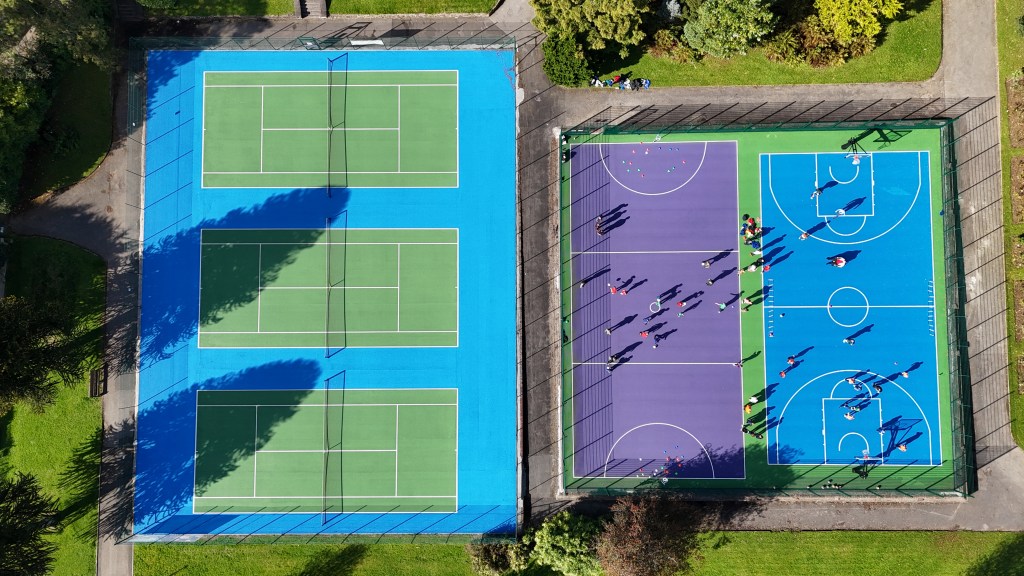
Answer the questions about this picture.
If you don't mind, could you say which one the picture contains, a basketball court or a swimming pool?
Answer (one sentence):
I can see a basketball court in this picture.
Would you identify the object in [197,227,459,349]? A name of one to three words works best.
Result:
tennis court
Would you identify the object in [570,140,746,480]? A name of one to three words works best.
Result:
sports court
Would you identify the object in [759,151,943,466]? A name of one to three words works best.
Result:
basketball court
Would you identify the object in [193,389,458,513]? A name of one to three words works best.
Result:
tennis court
